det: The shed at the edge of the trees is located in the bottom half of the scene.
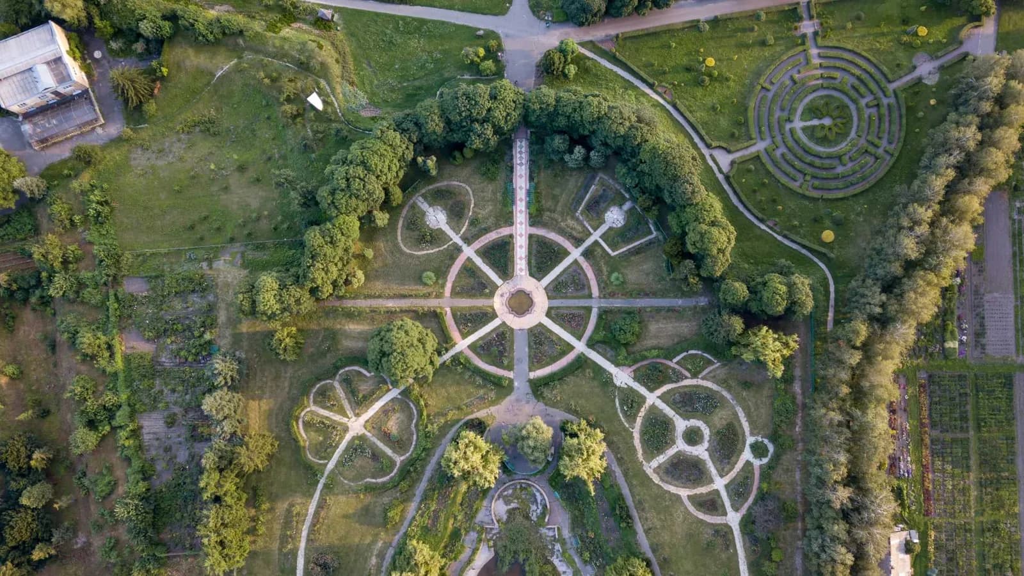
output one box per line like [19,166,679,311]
[884,526,912,576]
